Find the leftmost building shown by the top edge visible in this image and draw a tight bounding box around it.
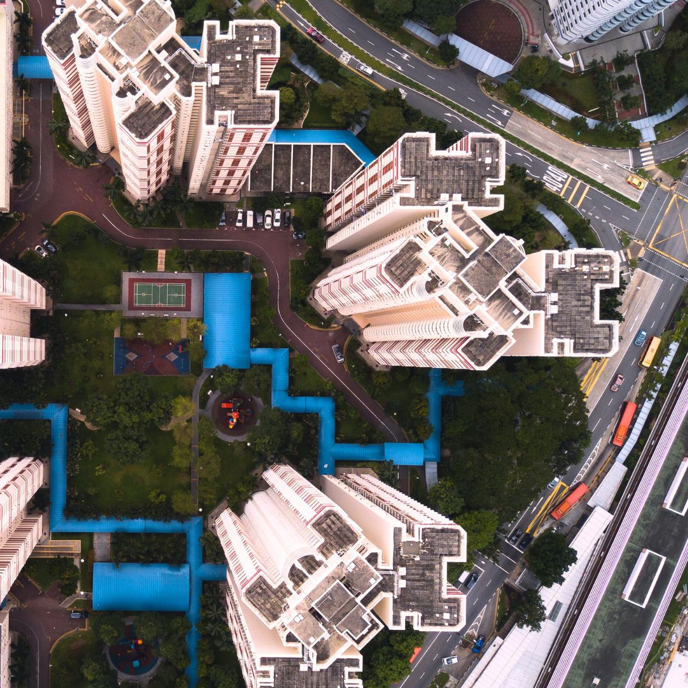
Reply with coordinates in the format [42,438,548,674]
[43,0,283,207]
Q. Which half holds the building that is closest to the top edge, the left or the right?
right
